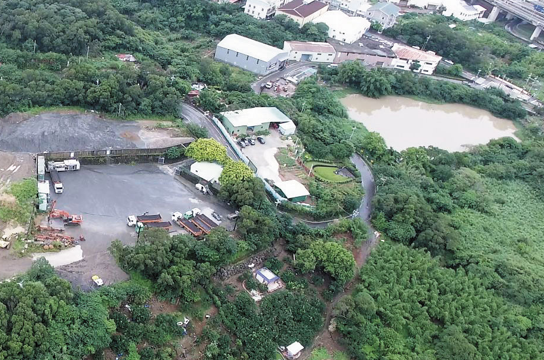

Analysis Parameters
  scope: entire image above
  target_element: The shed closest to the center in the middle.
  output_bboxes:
[271,179,312,204]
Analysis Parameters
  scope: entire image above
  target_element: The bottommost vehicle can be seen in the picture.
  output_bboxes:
[90,272,105,284]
